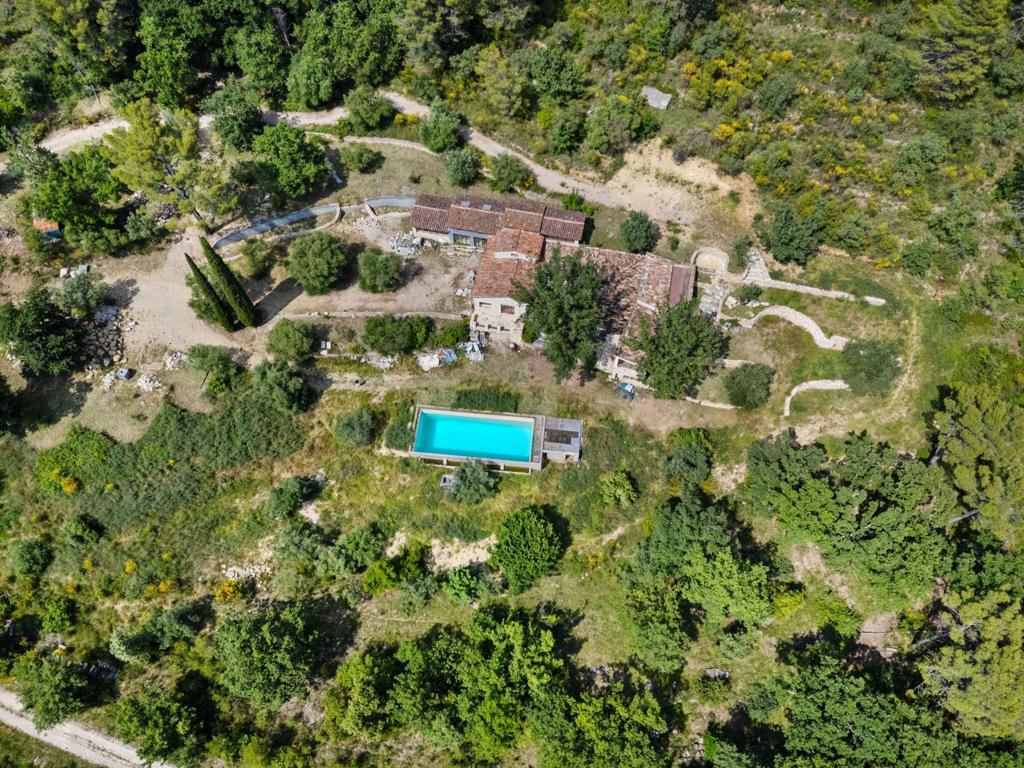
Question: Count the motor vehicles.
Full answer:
The photo contains no motor vehicles.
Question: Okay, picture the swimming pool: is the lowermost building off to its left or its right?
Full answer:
Looking at the photo, the lowermost building lies to the right of the swimming pool.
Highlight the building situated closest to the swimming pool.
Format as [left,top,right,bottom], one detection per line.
[543,416,584,471]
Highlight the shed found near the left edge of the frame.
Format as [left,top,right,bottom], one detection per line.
[34,217,65,246]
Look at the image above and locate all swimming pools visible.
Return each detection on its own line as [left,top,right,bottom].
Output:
[409,405,546,480]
